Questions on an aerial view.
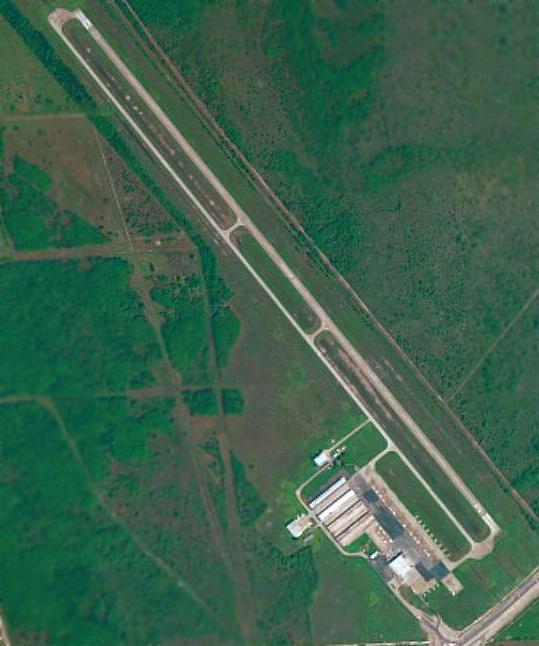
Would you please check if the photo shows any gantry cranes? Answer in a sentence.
No, no gantry crane can be seen from above.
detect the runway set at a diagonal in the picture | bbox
[74,9,502,535]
